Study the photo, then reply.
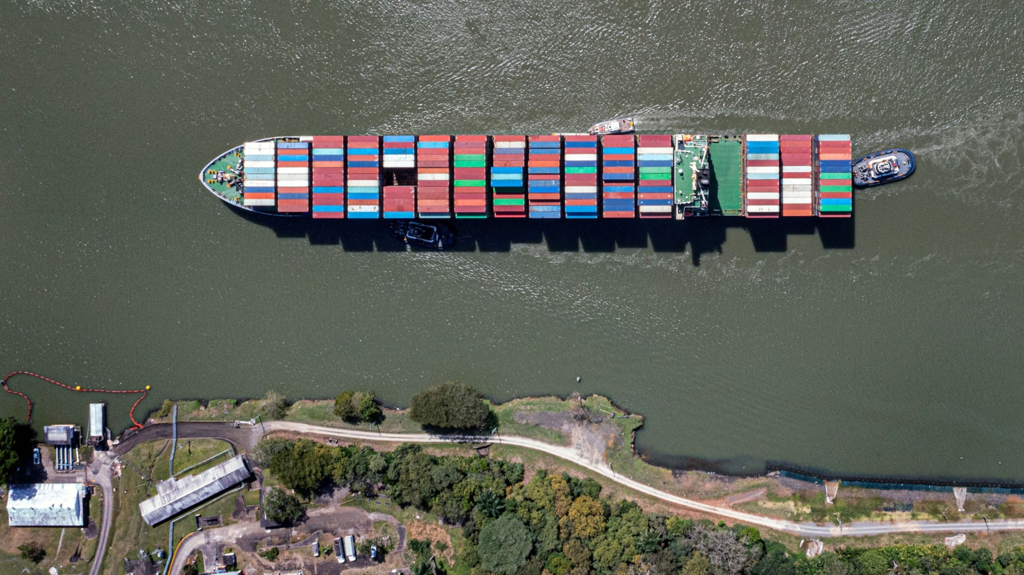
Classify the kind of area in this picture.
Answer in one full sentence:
This looks like a port.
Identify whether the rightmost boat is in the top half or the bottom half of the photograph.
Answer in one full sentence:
The rightmost boat sits in the top half of the picture.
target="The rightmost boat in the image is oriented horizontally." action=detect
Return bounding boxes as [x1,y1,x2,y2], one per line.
[847,150,915,187]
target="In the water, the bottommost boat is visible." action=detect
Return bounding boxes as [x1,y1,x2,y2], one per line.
[387,217,458,249]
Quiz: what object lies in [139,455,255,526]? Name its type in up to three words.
shed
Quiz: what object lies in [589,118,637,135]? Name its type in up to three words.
boat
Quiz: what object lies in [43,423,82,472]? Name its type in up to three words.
building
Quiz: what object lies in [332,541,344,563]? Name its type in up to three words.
vehicle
